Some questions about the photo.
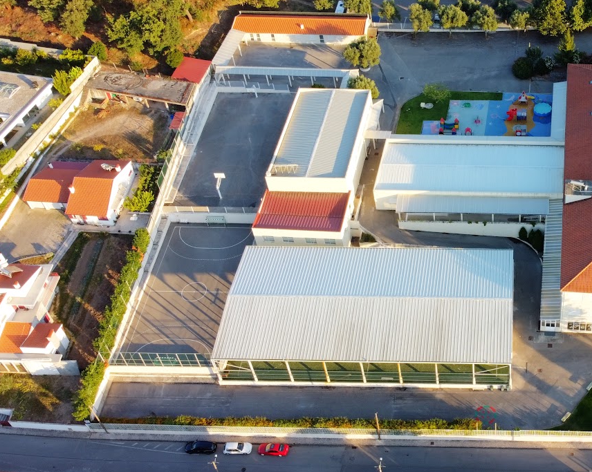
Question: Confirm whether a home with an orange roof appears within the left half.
Yes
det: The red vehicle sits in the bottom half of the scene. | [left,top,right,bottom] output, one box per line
[257,443,291,458]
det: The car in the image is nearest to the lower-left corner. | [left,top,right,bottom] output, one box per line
[186,441,216,457]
